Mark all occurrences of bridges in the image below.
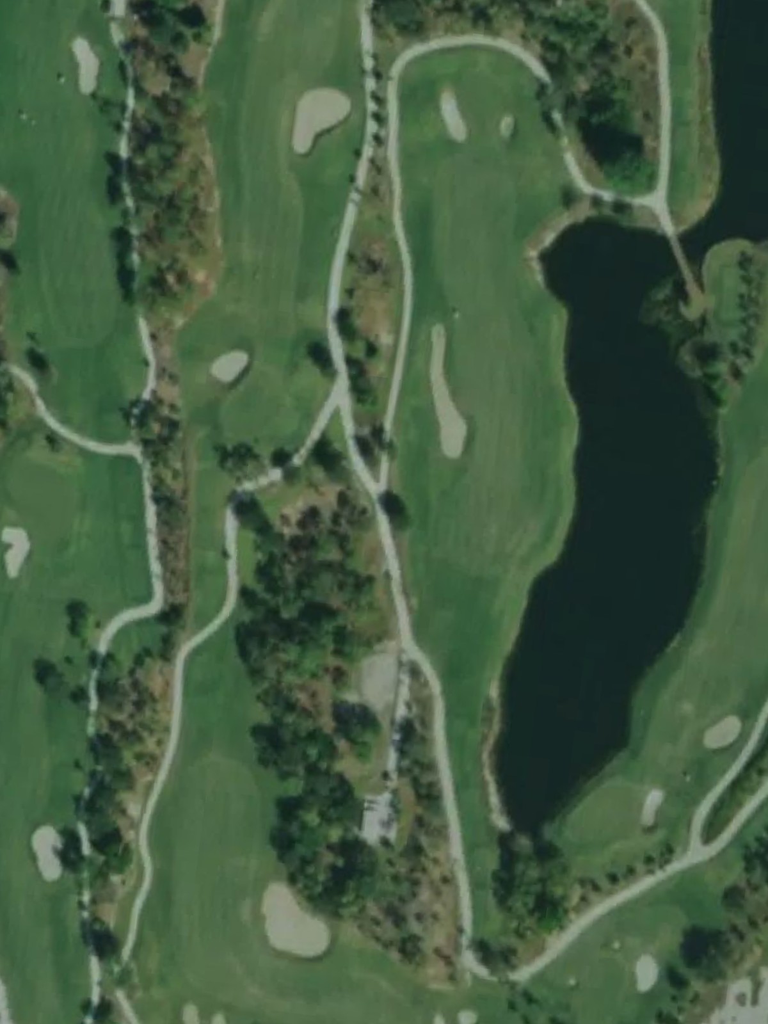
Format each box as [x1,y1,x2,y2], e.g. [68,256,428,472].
[666,224,699,302]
